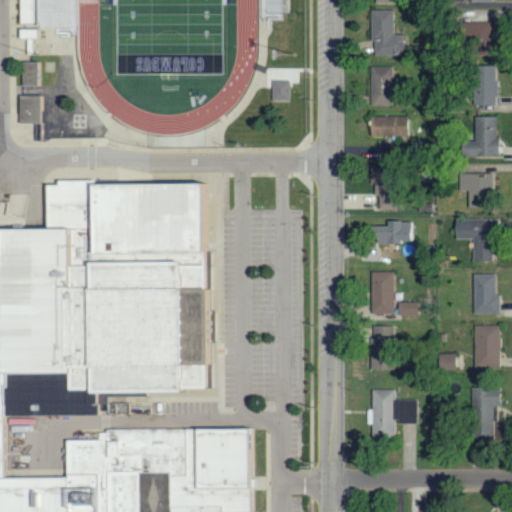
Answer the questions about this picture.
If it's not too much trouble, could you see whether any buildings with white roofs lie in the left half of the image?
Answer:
Yes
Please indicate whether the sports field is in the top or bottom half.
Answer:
top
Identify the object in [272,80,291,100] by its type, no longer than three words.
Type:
building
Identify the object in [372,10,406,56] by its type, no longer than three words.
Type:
house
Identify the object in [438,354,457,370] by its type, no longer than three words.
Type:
shed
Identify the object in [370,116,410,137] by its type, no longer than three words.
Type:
house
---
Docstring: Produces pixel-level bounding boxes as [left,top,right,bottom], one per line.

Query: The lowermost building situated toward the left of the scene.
[0,180,259,512]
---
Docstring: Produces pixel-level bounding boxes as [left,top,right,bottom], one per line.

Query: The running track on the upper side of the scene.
[80,0,256,134]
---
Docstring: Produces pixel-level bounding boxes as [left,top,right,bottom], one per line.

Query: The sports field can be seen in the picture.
[98,0,238,115]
